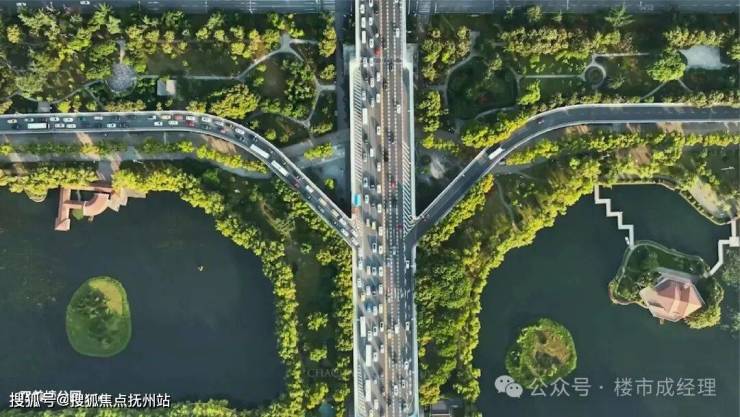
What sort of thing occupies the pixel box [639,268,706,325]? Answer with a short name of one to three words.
building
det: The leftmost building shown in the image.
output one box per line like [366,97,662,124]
[53,179,113,232]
